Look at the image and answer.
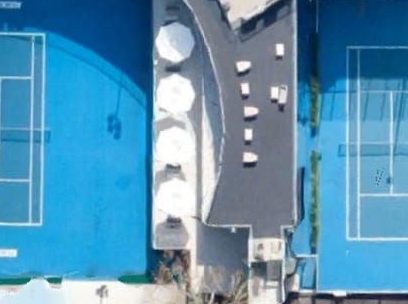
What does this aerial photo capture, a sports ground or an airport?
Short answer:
sports ground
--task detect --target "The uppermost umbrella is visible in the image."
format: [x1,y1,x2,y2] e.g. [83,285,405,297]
[155,23,194,63]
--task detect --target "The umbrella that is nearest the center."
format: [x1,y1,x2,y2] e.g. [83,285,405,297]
[154,126,193,165]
